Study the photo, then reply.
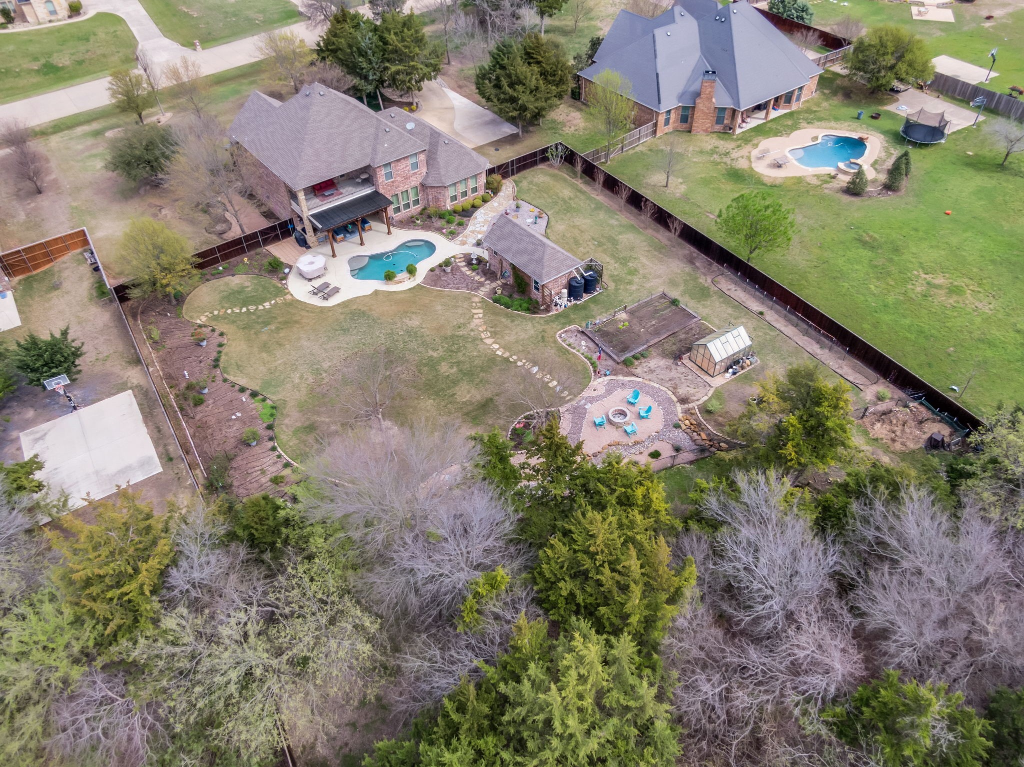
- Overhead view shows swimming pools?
Yes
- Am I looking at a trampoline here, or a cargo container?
trampoline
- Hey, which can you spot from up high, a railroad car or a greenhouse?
greenhouse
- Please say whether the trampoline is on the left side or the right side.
right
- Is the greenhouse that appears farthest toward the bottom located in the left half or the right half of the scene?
right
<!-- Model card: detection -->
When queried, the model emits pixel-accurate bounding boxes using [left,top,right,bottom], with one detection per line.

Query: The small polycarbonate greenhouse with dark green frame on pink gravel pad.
[689,321,759,377]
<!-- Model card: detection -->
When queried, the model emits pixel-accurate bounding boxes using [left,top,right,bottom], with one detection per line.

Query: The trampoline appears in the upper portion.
[900,106,952,150]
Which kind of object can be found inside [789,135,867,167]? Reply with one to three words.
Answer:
swimming pool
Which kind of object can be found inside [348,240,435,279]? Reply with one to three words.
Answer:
swimming pool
